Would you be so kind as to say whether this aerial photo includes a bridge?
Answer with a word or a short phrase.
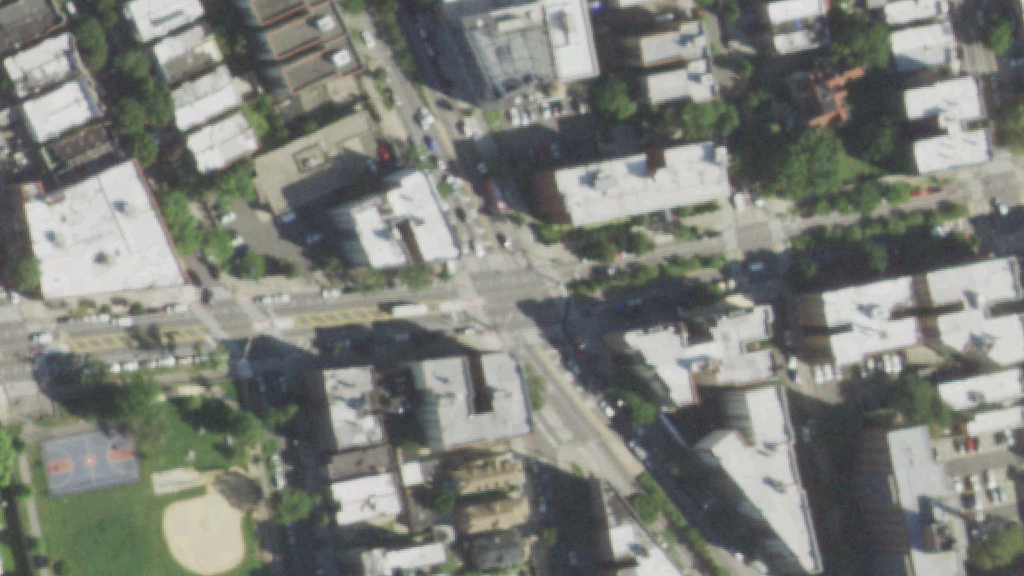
No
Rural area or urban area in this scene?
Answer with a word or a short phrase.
urban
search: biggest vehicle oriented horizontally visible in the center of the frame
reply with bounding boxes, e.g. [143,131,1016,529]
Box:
[390,304,431,316]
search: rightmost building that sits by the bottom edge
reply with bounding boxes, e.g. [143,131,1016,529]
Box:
[851,427,973,576]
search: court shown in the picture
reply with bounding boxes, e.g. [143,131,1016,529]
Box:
[42,432,139,497]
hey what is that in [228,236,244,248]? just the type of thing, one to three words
vehicle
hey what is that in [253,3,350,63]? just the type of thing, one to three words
house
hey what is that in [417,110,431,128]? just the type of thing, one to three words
vehicle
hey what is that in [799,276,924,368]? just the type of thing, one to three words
building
